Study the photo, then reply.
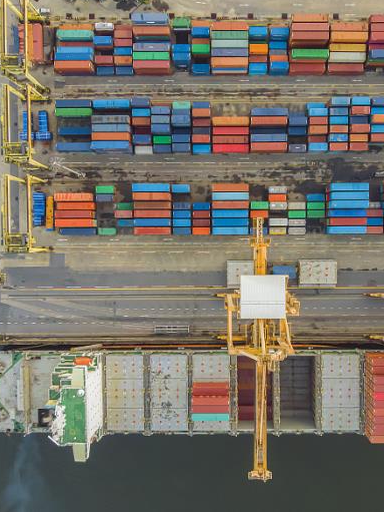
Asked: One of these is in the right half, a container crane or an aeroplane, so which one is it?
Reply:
container crane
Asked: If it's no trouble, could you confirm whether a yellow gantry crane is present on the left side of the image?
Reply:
Yes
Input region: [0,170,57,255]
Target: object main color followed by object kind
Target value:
yellow container crane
